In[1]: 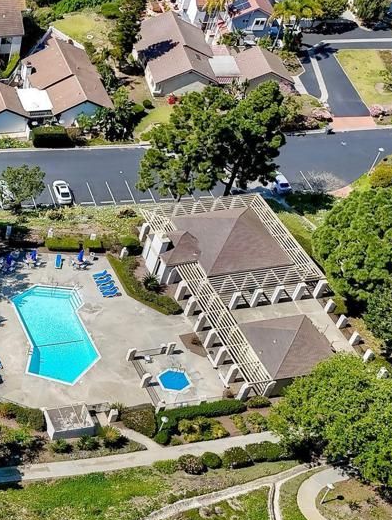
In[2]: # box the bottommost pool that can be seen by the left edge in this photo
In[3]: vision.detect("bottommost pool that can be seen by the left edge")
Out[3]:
[10,280,101,385]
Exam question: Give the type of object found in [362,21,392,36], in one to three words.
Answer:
car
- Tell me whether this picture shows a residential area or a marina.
residential area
